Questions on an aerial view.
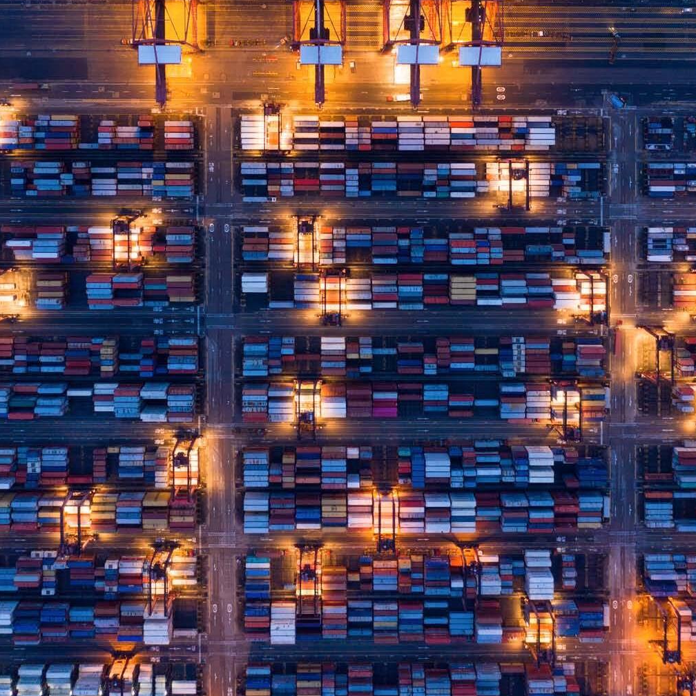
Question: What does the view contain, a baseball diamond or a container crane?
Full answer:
This aerial view contains a container crane.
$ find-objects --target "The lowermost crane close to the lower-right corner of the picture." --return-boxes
[658,649,695,696]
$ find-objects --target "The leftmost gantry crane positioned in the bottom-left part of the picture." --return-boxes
[59,485,94,556]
